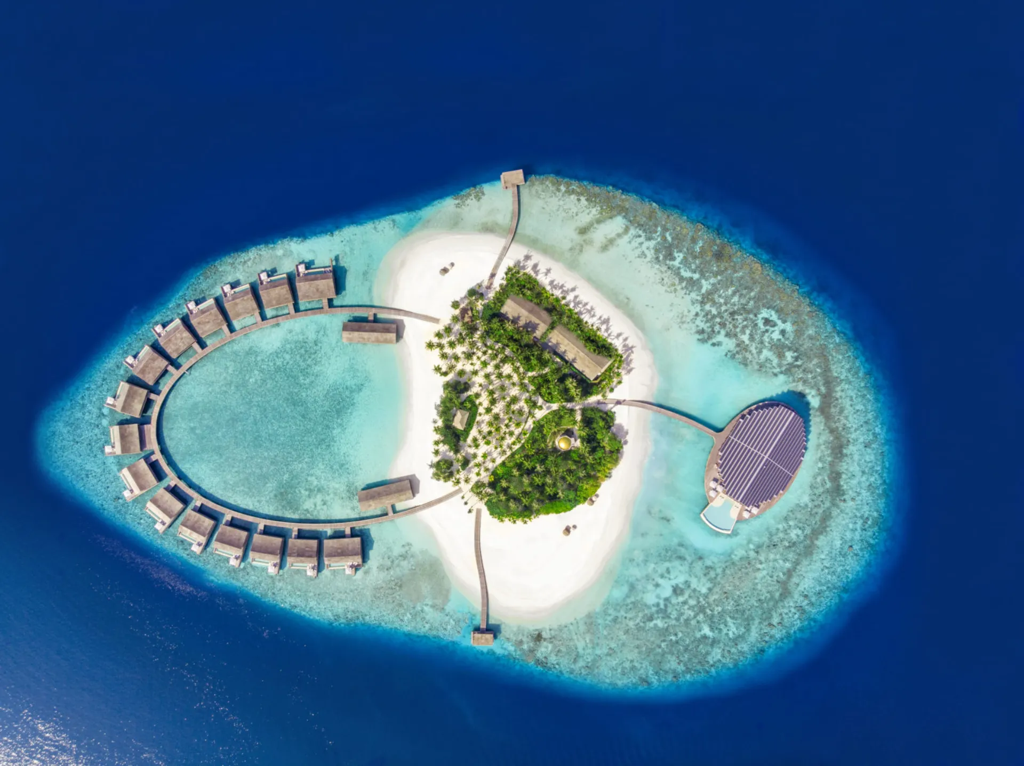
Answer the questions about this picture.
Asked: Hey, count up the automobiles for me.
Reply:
0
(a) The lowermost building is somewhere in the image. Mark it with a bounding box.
[471,630,493,646]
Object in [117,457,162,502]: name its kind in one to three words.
house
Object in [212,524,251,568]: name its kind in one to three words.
house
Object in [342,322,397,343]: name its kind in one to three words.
building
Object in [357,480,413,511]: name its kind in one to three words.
building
